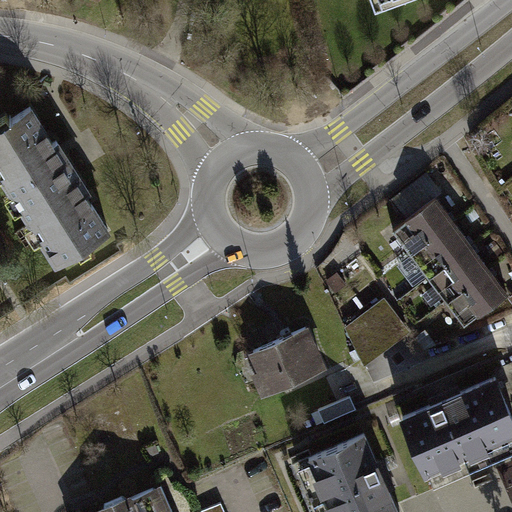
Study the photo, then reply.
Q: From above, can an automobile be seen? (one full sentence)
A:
Yes, there's an automobile here.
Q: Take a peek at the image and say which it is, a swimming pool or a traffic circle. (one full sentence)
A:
The image shows a traffic circle.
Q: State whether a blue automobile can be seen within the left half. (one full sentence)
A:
Yes, a blue automobile shows up within the left half.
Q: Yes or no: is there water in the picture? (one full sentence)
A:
No, no water is visible.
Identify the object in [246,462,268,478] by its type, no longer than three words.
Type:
car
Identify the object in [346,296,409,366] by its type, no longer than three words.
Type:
building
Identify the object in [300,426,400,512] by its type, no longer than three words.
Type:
house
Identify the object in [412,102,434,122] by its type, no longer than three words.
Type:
car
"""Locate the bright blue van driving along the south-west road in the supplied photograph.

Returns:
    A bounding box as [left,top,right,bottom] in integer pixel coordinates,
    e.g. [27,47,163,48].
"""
[104,318,128,336]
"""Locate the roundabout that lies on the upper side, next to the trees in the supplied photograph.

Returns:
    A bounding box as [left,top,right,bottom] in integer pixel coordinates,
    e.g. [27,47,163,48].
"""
[191,130,329,268]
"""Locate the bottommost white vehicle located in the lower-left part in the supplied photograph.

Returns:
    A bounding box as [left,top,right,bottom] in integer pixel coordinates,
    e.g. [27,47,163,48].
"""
[16,374,37,391]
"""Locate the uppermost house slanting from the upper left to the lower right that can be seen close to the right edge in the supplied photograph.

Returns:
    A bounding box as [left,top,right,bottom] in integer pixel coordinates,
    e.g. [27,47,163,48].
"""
[393,198,508,329]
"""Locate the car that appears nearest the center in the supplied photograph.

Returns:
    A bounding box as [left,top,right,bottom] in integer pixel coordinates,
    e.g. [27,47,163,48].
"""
[226,250,244,264]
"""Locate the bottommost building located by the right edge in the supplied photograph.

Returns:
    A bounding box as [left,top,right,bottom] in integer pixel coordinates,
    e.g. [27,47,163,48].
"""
[400,373,512,492]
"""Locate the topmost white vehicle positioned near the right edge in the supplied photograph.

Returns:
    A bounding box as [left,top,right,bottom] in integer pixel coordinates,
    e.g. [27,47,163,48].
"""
[486,320,506,334]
